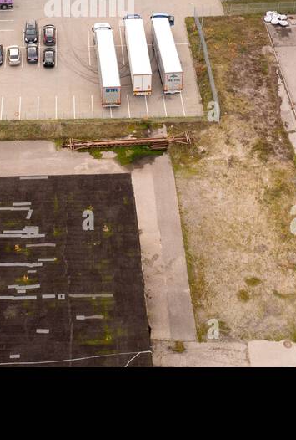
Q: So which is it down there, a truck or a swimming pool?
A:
truck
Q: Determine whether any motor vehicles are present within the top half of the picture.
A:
Yes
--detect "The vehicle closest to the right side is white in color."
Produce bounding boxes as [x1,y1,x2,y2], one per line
[147,13,184,92]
